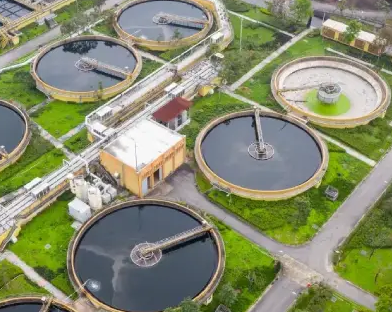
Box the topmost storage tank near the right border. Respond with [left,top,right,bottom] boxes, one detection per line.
[269,56,390,129]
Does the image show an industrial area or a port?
industrial area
